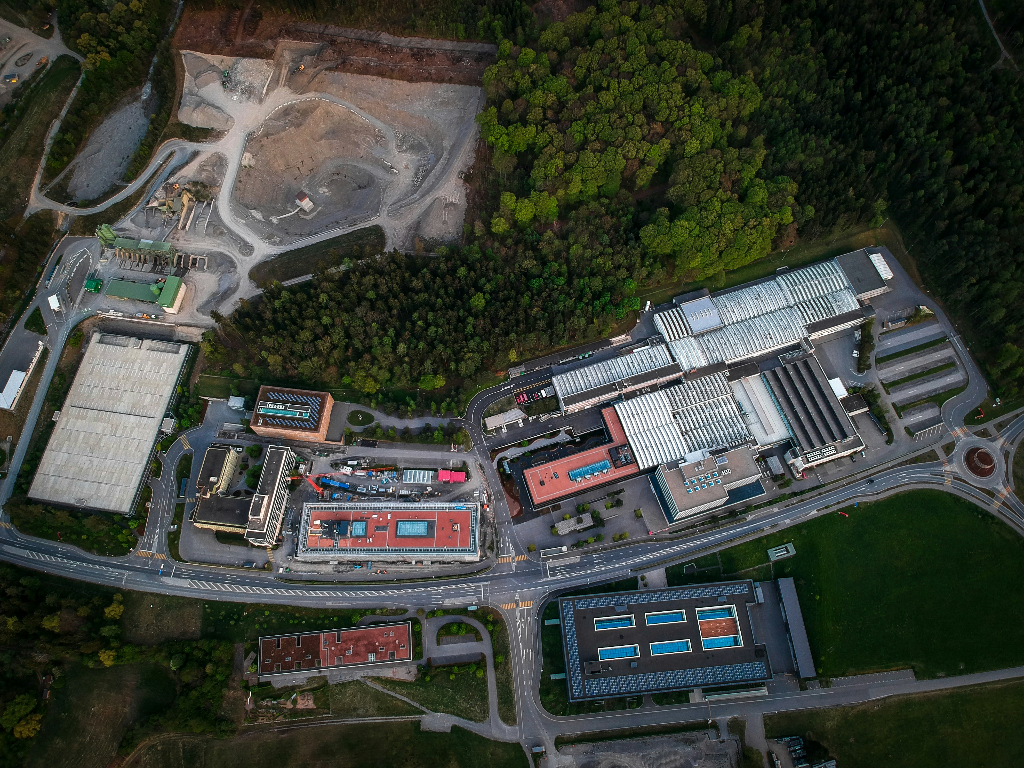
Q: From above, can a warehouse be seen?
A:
Yes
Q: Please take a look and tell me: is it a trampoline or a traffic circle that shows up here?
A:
traffic circle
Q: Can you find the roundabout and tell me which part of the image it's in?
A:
right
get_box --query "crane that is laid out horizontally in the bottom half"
[286,466,394,501]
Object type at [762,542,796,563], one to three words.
house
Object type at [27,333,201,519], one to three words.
warehouse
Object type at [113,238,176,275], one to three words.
shed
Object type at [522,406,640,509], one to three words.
building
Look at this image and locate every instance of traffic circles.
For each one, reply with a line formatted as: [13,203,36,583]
[952,436,1007,490]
